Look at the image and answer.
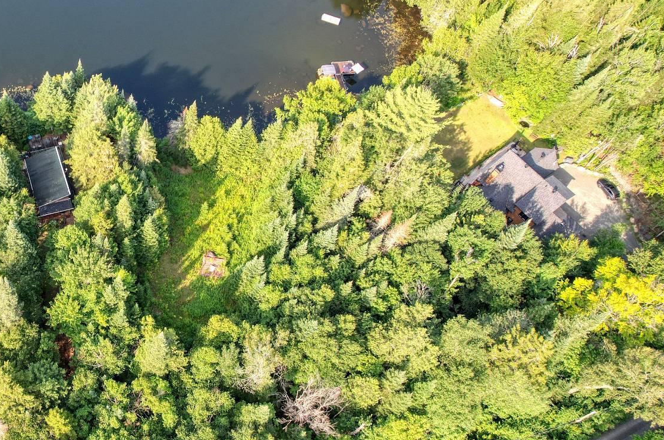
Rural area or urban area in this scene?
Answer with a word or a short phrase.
rural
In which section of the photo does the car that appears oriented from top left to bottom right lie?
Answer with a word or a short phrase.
right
